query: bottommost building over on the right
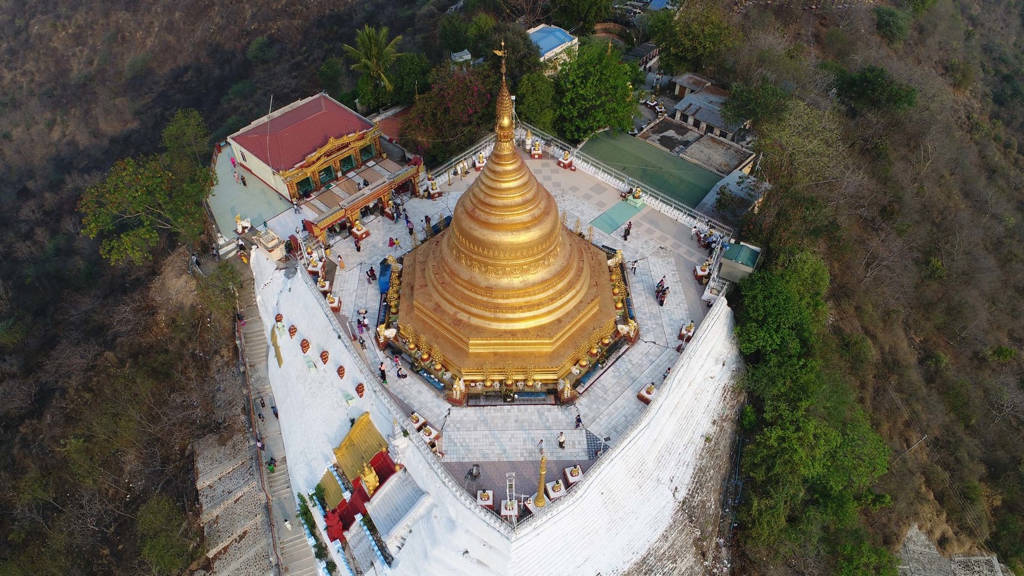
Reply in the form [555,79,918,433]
[719,233,766,325]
